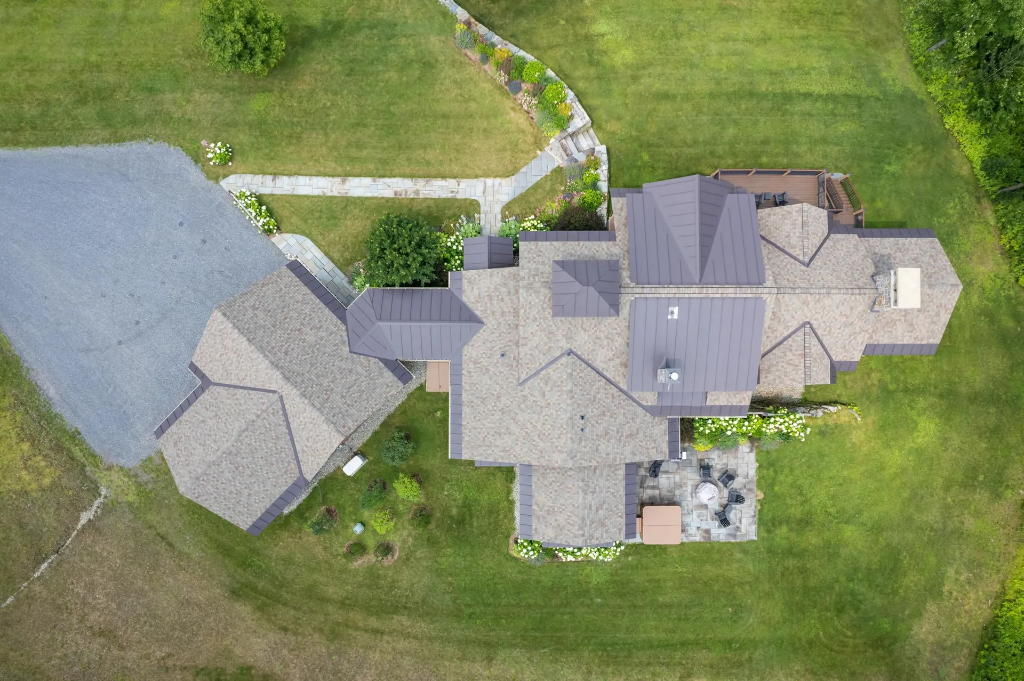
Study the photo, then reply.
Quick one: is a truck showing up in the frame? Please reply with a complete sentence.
No, the picture doesn't show any truck.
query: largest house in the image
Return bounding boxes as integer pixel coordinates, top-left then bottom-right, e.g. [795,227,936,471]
[345,175,962,548]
